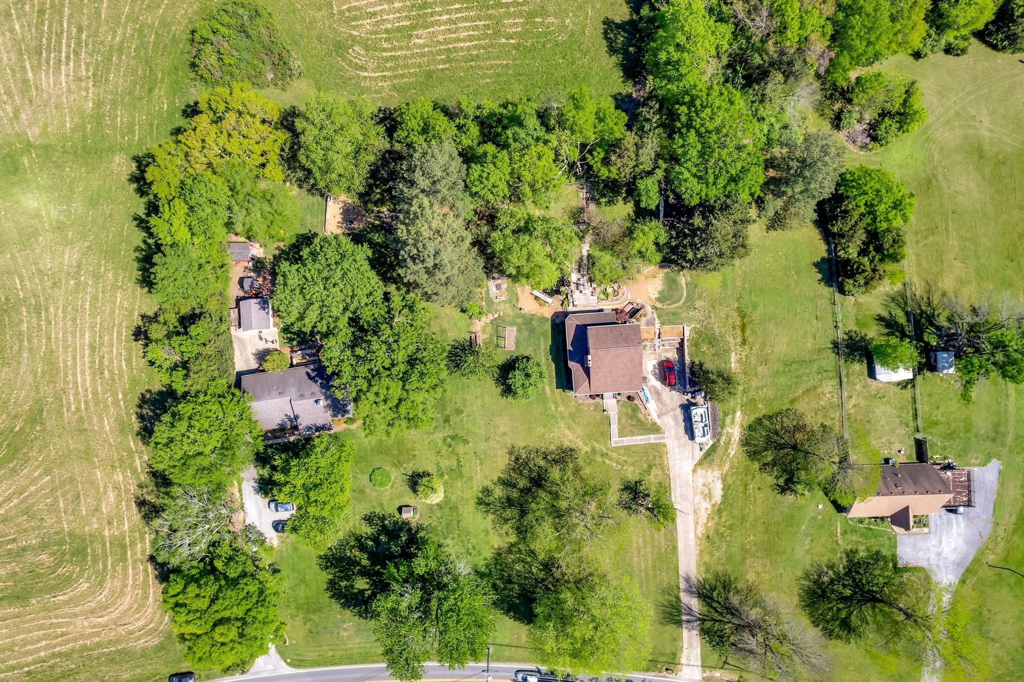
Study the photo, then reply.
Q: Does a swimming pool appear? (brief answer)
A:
No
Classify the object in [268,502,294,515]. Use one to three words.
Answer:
vehicle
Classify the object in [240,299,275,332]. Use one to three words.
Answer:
building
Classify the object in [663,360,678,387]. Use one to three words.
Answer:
car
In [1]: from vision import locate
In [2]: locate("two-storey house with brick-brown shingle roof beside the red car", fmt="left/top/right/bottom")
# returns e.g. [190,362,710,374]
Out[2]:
[566,311,643,395]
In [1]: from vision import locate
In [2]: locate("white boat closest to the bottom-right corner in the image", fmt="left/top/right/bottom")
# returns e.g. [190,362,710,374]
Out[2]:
[692,404,711,444]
